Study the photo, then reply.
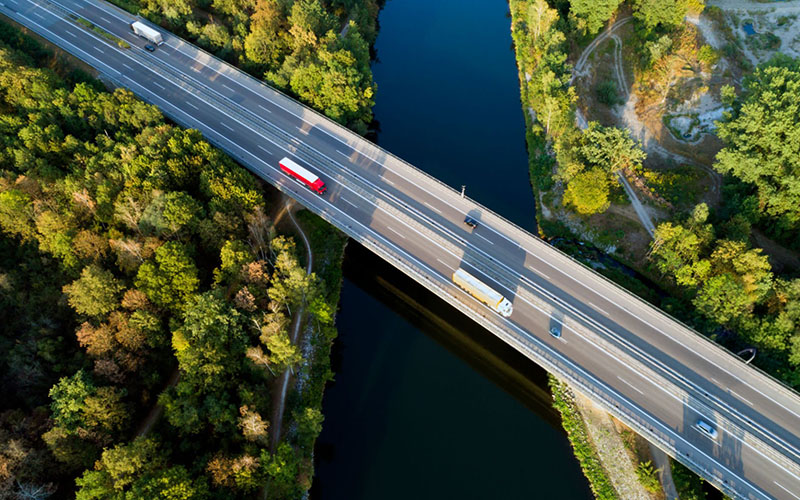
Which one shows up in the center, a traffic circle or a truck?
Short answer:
truck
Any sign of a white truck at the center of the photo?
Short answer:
Yes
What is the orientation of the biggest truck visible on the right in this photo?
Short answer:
diagonally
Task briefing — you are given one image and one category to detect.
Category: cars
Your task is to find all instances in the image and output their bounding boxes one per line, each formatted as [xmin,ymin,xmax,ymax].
[548,324,563,338]
[463,217,478,227]
[695,420,719,438]
[145,45,155,52]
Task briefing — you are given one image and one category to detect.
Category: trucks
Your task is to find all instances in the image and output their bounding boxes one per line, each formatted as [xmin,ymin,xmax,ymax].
[454,268,512,316]
[279,157,325,195]
[128,22,163,45]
